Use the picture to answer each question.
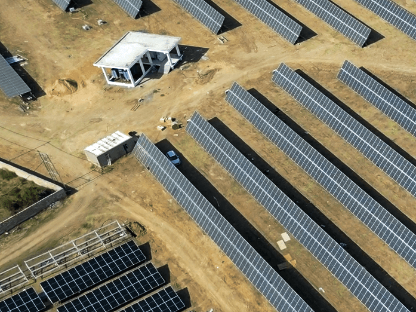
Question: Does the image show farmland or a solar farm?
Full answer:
What you see here is a solar farm.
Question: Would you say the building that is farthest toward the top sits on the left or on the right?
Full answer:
It is on the left.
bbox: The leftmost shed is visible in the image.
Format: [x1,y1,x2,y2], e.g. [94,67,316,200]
[84,130,134,168]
